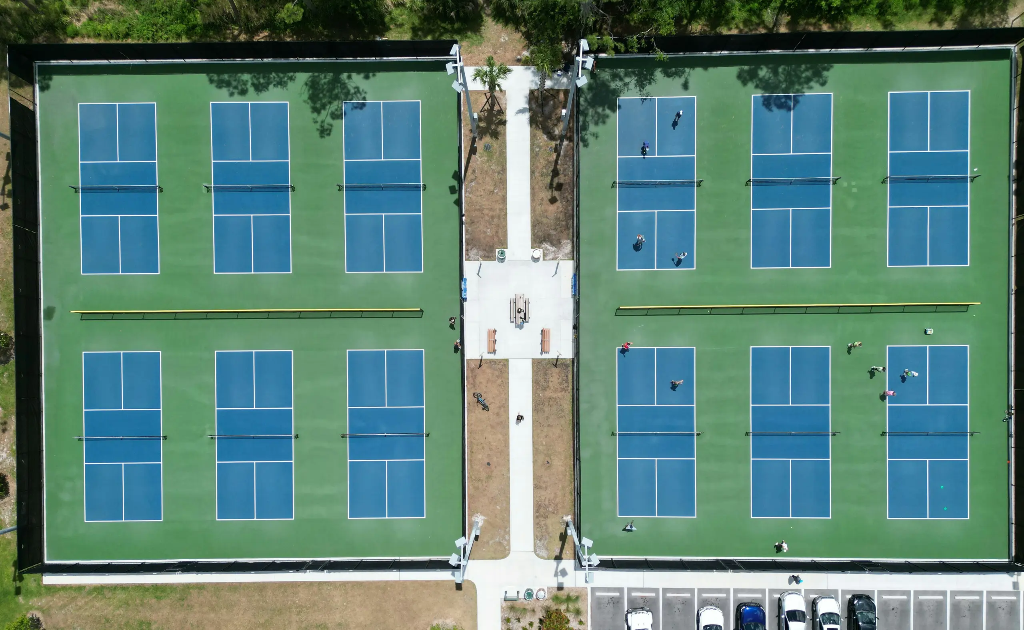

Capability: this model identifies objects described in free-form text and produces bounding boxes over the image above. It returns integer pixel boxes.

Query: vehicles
[625,607,651,630]
[778,591,810,630]
[737,603,769,630]
[813,596,846,630]
[696,608,722,630]
[848,595,882,630]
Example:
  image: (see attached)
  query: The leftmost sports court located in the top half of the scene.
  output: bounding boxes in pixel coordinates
[78,102,159,274]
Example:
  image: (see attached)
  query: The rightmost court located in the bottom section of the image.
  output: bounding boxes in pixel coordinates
[887,345,969,519]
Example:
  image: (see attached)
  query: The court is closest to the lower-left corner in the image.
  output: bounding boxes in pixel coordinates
[82,352,162,521]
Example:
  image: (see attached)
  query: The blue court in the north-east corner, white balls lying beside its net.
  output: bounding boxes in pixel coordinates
[888,90,970,266]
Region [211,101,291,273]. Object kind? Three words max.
sports court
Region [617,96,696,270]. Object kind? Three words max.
sports court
